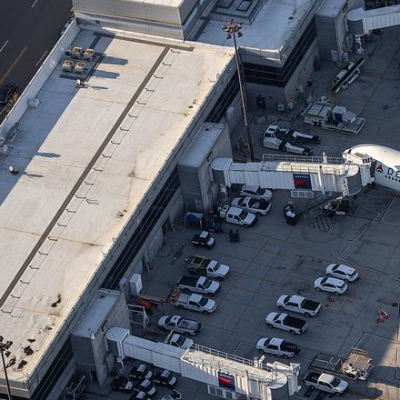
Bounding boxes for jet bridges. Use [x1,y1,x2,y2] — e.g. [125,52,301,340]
[103,324,310,400]
[207,154,379,225]
[343,2,400,58]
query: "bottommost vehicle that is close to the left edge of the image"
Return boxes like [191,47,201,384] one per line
[0,79,20,105]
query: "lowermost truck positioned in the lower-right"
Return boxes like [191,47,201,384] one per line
[307,370,348,394]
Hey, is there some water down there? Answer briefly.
No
